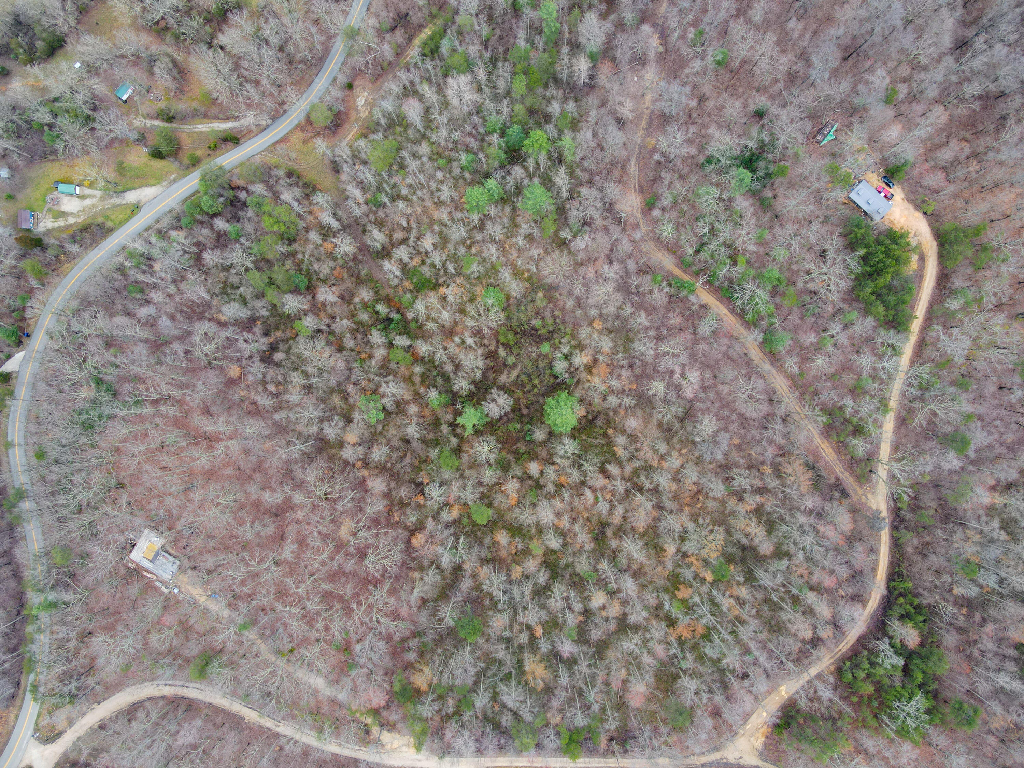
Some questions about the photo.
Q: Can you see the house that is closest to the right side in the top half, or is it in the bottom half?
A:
top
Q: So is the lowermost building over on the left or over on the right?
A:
left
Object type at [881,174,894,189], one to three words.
vehicle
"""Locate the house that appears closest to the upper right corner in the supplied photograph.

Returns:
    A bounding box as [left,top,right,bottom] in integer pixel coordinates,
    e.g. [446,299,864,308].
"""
[840,180,891,228]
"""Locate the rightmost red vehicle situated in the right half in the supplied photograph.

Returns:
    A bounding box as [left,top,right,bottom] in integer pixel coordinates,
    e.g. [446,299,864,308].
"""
[875,185,895,200]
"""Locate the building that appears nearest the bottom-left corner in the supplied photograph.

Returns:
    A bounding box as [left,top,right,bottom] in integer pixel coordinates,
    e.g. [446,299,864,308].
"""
[129,531,180,581]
